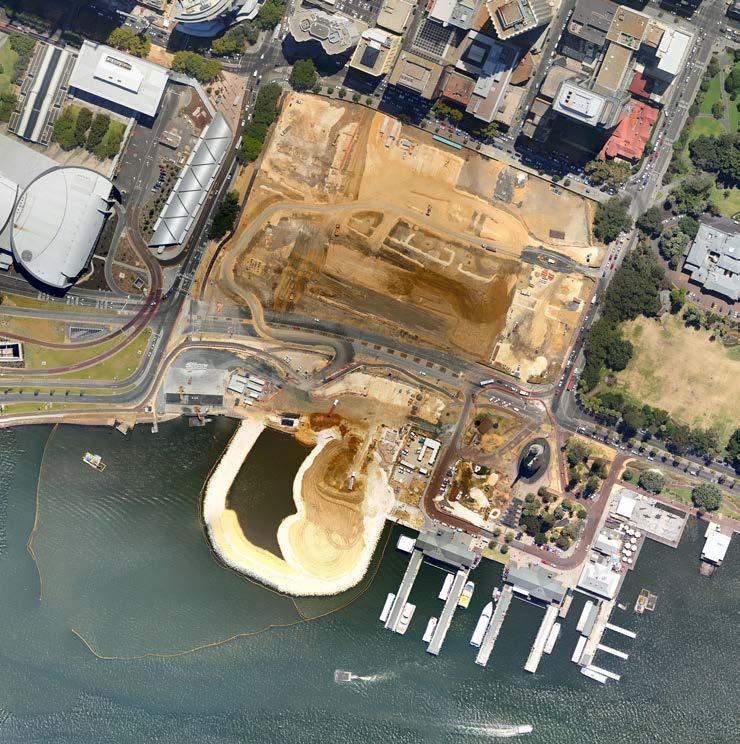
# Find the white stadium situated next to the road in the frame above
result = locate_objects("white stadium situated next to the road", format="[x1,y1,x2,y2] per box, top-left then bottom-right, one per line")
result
[10,163,120,290]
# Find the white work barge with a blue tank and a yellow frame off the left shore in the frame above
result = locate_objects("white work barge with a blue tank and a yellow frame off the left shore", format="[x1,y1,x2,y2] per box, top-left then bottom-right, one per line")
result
[84,453,107,471]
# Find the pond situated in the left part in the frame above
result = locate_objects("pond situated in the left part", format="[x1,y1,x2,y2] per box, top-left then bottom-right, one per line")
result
[226,424,320,562]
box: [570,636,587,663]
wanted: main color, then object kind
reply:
white ship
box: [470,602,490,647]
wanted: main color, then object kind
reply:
white ship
